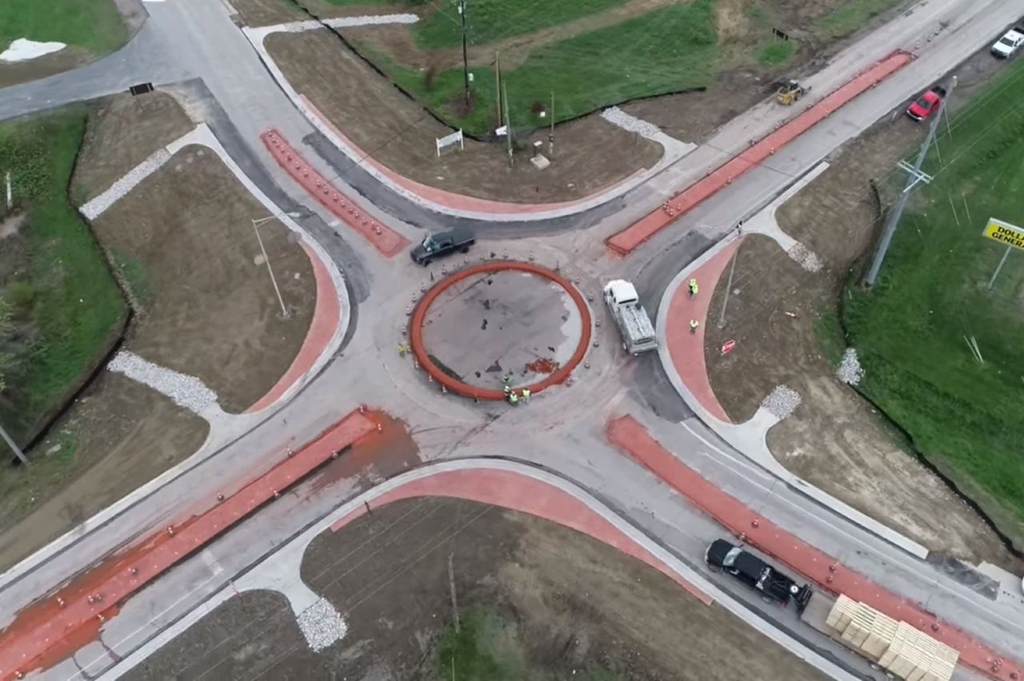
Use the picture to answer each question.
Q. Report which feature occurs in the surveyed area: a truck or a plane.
truck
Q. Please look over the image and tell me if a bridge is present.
No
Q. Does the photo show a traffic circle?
Yes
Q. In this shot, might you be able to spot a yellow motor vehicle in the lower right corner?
No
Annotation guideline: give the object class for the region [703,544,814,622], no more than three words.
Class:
truck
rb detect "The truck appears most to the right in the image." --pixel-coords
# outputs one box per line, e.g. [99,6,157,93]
[993,23,1024,59]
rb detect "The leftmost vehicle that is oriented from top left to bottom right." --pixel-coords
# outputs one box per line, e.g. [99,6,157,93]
[597,278,660,355]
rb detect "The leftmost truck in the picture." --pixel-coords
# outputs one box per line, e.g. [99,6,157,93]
[408,224,480,266]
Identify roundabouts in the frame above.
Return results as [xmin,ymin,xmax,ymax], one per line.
[339,219,662,461]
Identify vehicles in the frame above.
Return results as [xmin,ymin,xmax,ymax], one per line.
[703,544,814,622]
[597,278,660,355]
[907,86,954,125]
[993,23,1024,59]
[779,78,812,107]
[408,224,480,266]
